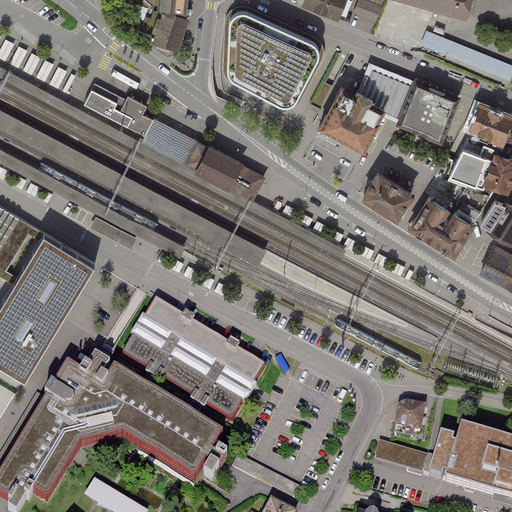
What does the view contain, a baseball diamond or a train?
train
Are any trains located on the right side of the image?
Yes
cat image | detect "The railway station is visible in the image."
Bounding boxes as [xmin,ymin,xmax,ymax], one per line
[0,66,512,346]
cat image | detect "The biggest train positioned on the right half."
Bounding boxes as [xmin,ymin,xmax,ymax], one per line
[335,320,420,367]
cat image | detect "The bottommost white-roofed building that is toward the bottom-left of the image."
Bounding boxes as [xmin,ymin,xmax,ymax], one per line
[85,478,154,512]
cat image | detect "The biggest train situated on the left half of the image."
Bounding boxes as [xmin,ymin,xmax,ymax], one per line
[40,166,158,230]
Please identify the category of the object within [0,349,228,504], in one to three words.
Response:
building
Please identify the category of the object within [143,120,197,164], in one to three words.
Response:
building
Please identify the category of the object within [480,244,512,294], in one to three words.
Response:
house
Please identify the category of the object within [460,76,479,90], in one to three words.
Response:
vehicle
